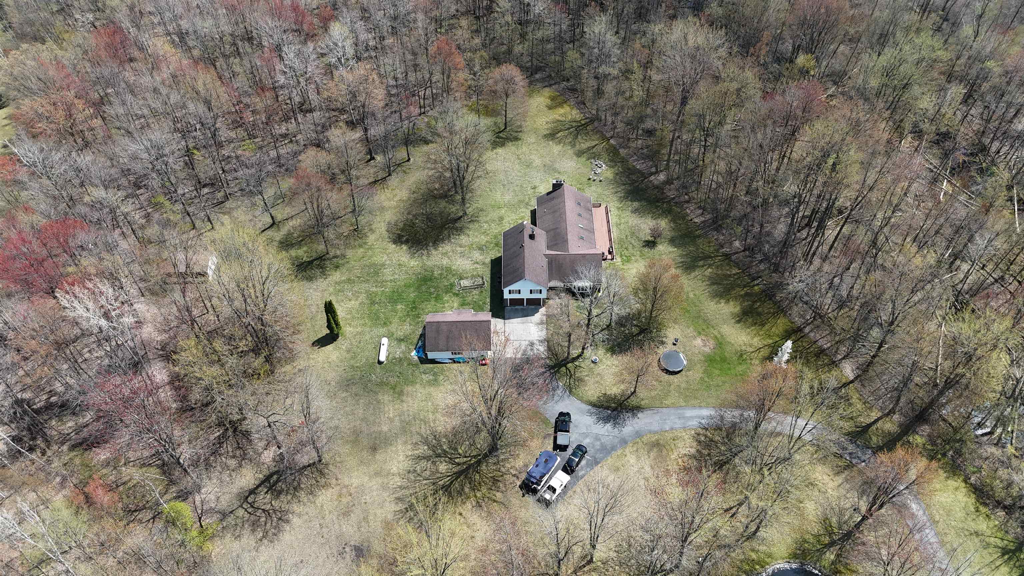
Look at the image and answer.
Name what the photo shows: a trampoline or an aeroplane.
trampoline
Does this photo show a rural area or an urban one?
rural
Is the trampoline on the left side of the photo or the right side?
right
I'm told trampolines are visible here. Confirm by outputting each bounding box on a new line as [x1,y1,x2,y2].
[660,350,687,375]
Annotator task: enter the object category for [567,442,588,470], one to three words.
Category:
car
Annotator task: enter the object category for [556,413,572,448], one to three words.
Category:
vehicle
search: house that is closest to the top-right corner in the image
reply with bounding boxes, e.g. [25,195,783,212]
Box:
[501,178,602,306]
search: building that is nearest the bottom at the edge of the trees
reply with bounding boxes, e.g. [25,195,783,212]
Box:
[425,310,492,358]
